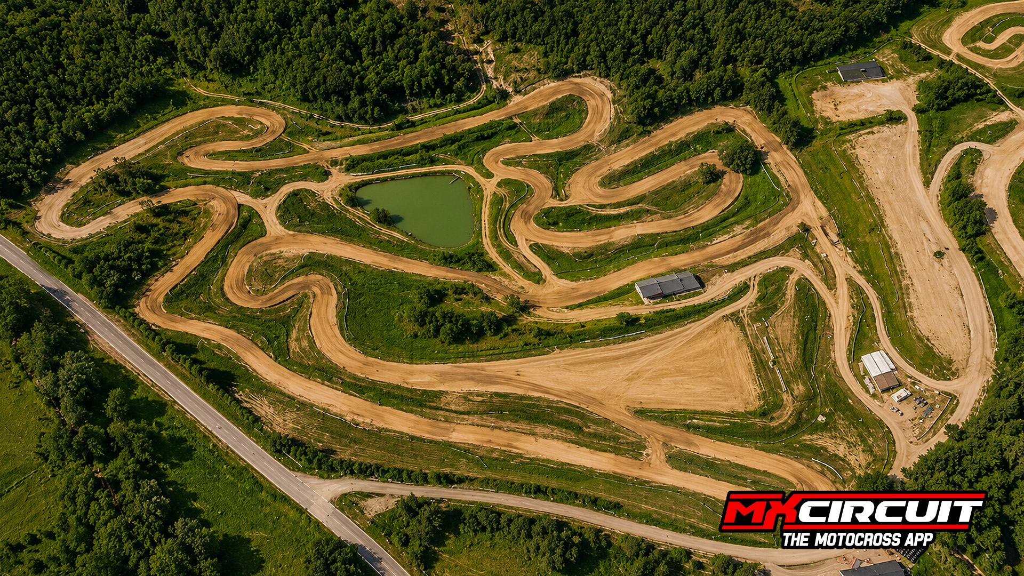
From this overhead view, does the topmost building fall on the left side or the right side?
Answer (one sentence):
You can find the topmost building on the right side of the picture.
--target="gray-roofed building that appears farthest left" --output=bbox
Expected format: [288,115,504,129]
[631,272,694,308]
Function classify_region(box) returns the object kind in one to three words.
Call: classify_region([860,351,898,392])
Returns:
shed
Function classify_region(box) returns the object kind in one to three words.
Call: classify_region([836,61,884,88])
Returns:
building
